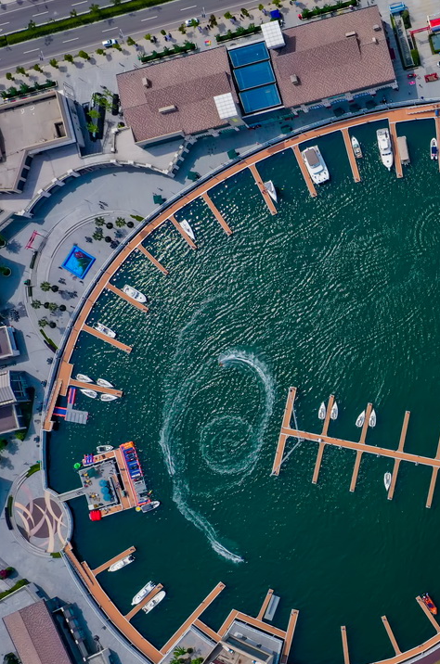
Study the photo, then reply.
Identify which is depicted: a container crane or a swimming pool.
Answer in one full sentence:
Looking from above, you can make out a swimming pool.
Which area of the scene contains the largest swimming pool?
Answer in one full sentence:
The largest swimming pool sits in the left section of the image.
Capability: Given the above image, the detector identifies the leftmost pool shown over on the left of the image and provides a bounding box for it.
[62,246,97,279]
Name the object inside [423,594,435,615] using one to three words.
boat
